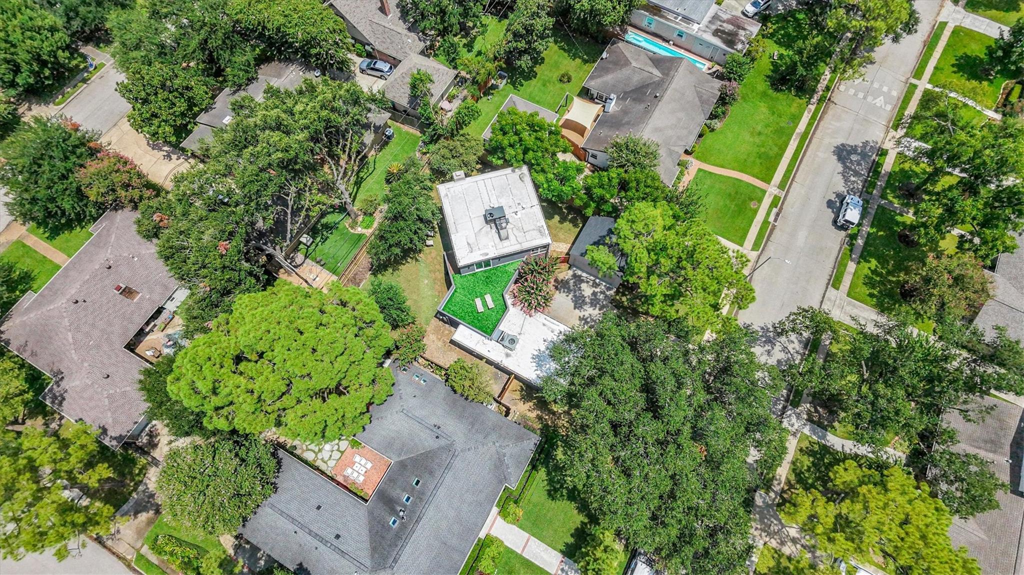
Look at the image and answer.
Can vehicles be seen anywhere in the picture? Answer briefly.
Yes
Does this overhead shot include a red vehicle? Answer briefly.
No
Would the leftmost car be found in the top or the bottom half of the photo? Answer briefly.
top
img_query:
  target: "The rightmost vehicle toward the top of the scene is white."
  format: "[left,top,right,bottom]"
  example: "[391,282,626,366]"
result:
[834,195,861,227]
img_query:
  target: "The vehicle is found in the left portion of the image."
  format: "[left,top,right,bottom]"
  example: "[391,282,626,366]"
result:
[357,60,392,81]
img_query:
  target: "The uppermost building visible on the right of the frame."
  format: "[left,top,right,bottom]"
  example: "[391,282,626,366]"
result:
[625,0,762,65]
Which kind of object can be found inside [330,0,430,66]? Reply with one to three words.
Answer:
house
